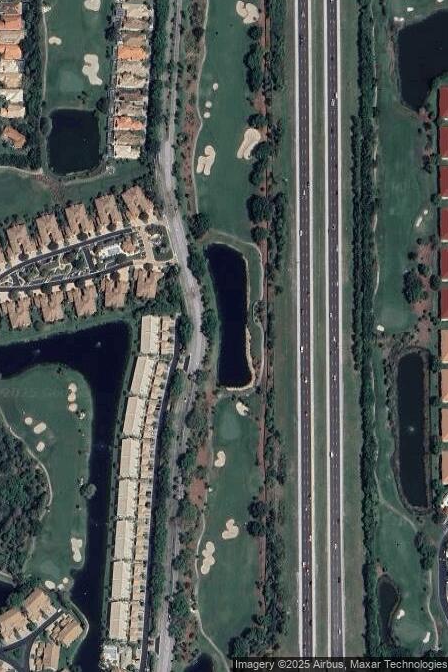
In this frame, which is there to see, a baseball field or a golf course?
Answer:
golf course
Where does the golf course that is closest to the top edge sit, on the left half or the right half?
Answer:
left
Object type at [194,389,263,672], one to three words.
golf course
